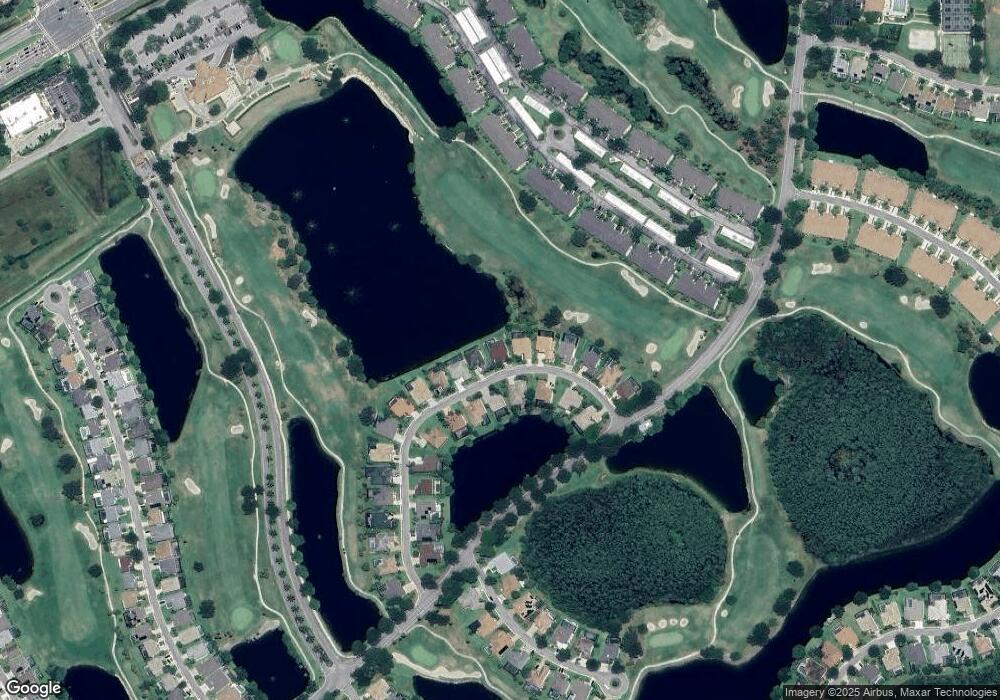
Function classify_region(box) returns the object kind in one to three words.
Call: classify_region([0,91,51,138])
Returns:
building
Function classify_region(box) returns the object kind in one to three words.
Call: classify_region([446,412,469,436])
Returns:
house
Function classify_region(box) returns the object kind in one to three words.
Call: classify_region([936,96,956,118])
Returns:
house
